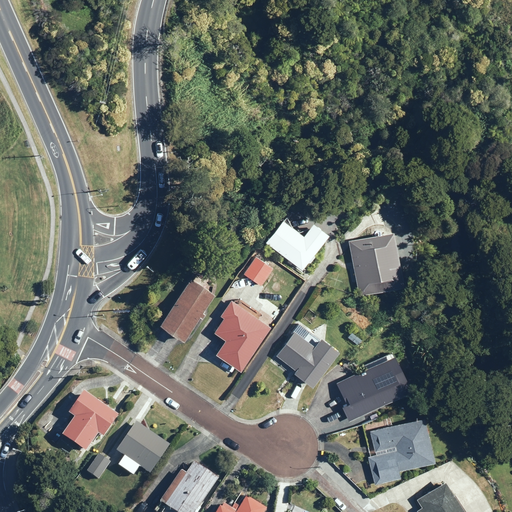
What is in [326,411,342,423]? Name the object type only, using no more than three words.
vehicle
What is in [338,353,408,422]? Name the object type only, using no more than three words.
house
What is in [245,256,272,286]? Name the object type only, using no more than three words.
building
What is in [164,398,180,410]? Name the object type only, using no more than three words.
vehicle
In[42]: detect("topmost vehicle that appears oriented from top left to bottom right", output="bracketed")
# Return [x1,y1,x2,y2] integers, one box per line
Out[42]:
[76,249,92,264]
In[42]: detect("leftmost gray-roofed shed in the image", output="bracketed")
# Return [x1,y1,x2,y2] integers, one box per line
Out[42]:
[87,453,111,478]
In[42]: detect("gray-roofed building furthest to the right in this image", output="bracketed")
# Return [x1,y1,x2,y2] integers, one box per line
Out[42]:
[417,484,466,512]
